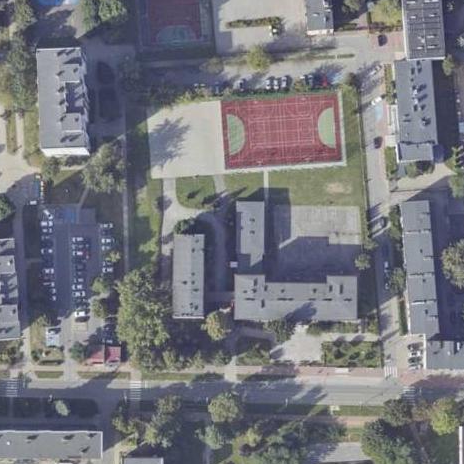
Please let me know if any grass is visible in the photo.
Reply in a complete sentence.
Yes, there's grass in this view.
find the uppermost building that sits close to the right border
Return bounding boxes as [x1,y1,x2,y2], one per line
[401,0,444,64]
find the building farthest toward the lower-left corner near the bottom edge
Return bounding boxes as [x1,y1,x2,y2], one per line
[0,431,107,460]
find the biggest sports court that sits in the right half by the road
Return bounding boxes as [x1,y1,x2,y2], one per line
[221,92,343,170]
